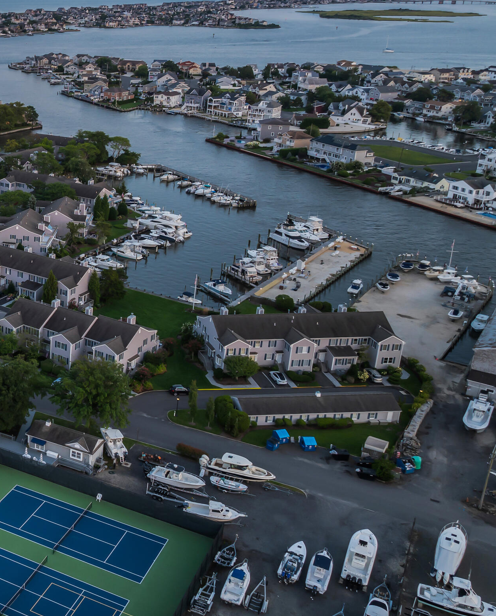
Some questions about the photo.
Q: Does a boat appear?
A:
Yes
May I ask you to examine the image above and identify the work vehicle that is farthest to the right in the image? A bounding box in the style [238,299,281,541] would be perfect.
[446,282,483,301]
